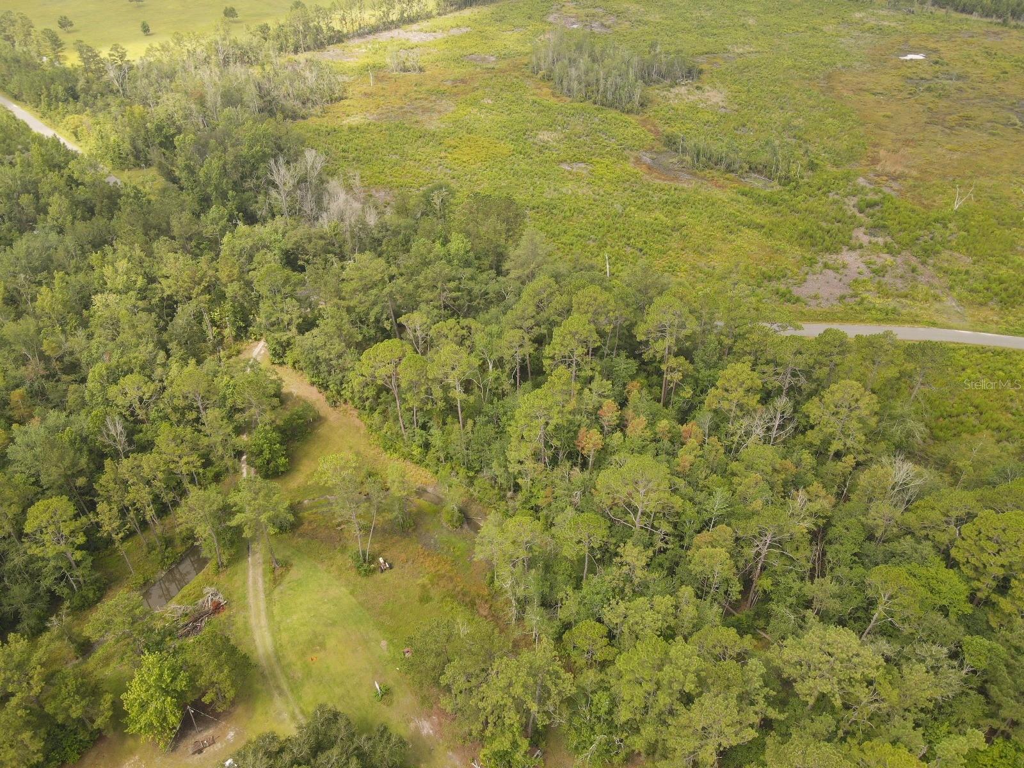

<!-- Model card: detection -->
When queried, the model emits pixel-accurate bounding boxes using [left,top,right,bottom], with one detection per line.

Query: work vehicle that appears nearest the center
[374,551,391,571]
